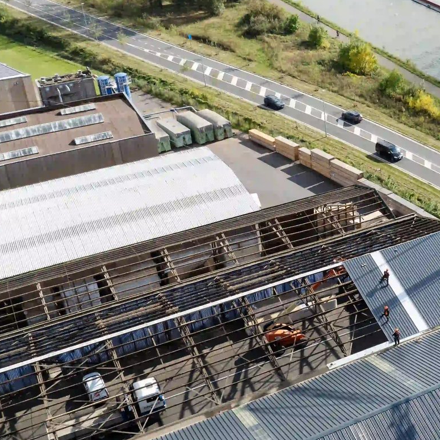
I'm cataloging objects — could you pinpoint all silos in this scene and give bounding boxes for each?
[118,71,142,108]
[100,76,121,95]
